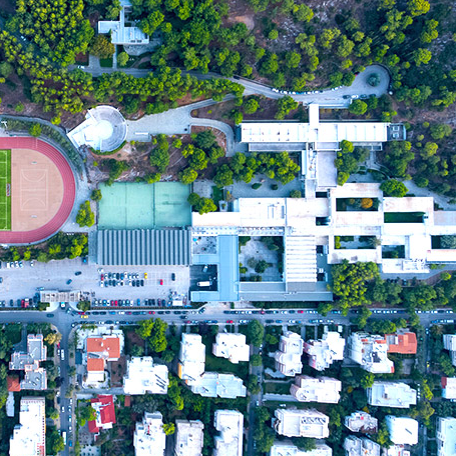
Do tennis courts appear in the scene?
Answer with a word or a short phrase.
Yes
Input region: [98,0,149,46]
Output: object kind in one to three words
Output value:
house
